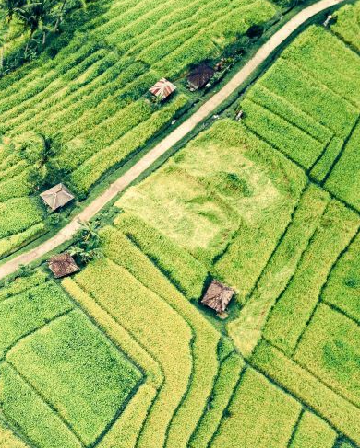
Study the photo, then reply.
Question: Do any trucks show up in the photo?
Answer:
No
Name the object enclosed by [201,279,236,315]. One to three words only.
shed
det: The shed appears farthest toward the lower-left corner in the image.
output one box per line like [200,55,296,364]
[49,252,80,282]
